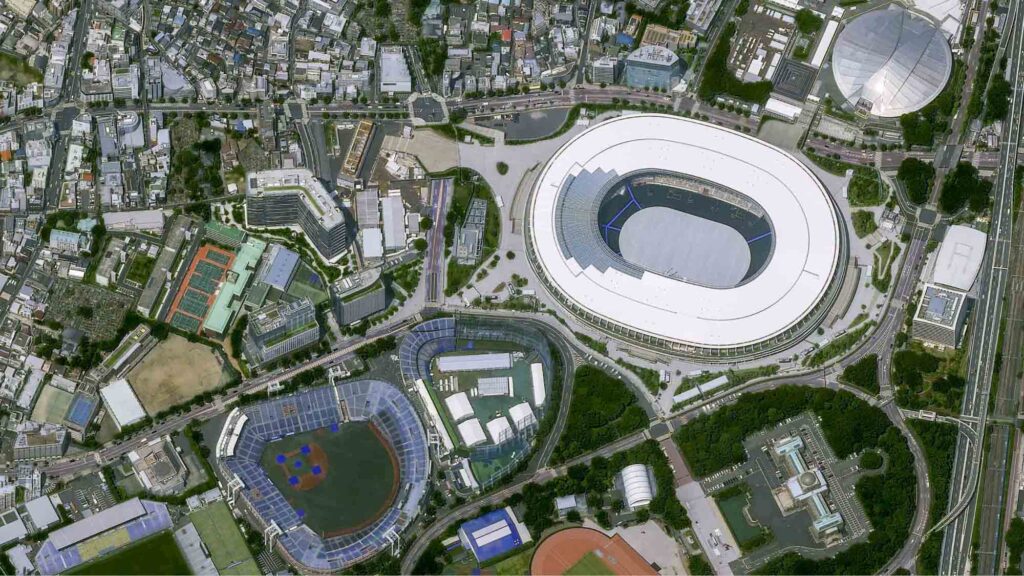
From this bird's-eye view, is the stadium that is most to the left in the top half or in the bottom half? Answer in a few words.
bottom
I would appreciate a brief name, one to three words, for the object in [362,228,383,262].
shed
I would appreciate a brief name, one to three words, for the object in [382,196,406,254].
shed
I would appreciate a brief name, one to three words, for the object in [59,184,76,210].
building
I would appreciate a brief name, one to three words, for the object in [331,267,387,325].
building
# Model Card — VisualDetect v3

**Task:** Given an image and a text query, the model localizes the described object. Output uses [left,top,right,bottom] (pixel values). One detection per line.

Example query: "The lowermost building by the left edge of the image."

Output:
[5,545,36,576]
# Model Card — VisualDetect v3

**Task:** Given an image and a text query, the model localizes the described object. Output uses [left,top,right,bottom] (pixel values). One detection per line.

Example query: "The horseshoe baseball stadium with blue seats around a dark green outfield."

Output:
[217,379,431,575]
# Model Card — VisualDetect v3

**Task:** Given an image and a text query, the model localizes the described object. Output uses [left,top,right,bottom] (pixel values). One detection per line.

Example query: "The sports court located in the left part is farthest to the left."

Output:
[62,393,99,432]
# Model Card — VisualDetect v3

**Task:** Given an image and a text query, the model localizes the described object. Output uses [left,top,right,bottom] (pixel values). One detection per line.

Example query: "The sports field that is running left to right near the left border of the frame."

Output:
[38,498,220,576]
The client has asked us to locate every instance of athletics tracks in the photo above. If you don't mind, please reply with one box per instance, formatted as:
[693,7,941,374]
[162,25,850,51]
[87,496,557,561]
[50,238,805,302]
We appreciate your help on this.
[529,525,662,576]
